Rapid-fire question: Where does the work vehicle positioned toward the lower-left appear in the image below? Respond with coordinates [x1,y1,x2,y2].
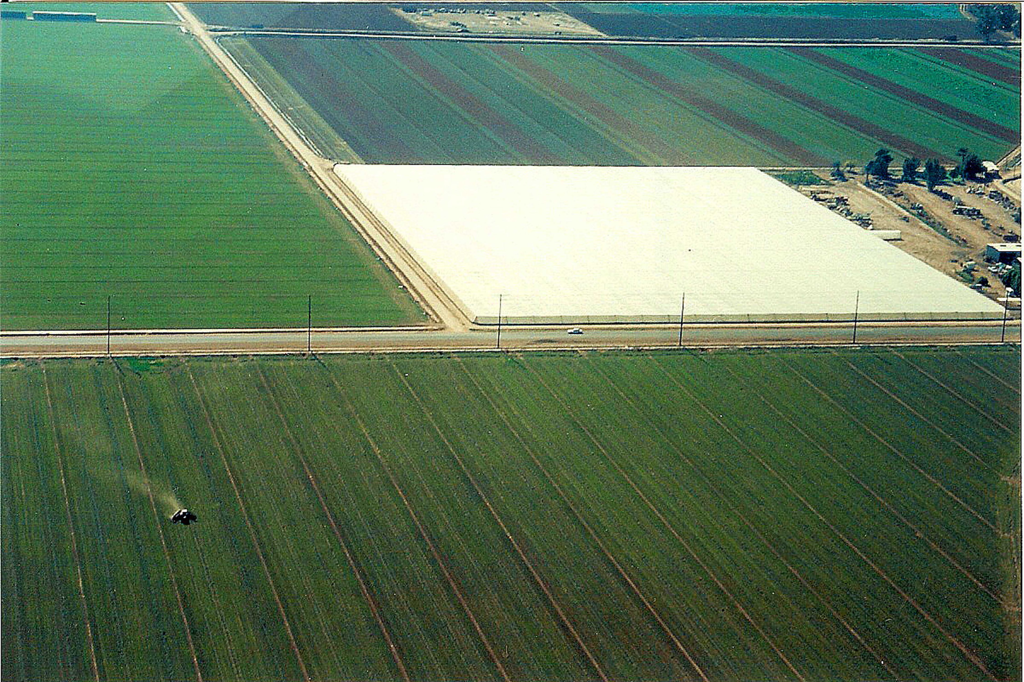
[167,511,195,526]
